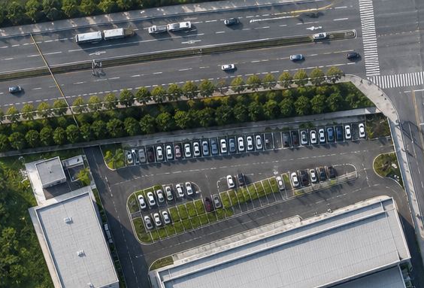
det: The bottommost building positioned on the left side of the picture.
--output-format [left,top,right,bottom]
[28,187,122,288]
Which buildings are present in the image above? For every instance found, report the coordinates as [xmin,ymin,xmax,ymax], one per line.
[28,187,122,288]
[35,157,67,192]
[153,198,409,288]
[62,155,83,173]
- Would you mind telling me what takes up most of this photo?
paved ground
